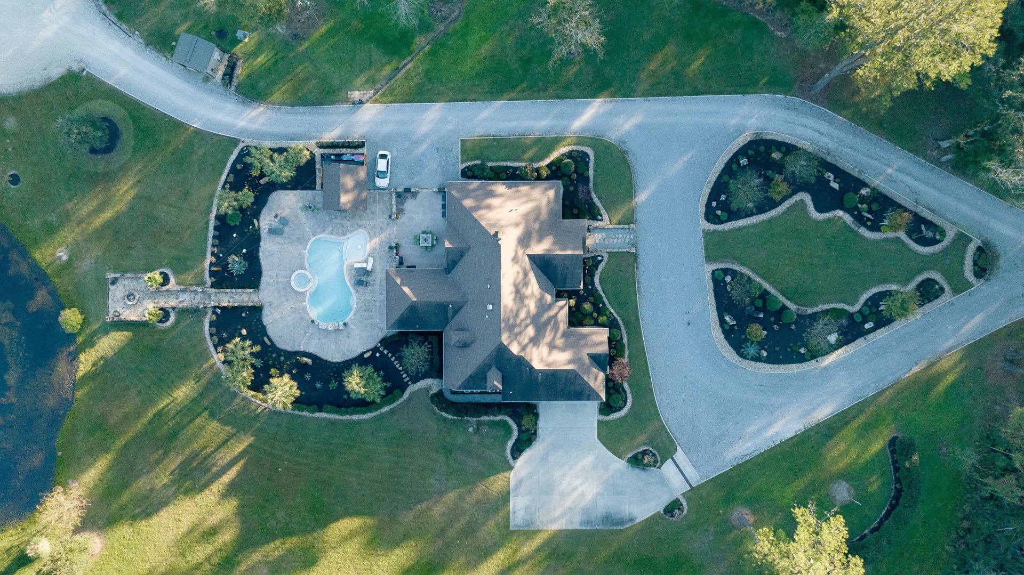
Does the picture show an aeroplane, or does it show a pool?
pool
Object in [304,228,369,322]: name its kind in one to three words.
swimming pool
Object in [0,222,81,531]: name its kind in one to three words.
pond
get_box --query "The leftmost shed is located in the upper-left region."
[174,34,233,82]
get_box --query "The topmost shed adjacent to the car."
[322,161,368,210]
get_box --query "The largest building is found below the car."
[385,180,611,402]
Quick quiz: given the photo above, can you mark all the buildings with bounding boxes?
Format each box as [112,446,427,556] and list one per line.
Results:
[322,161,368,210]
[174,34,233,82]
[385,180,611,402]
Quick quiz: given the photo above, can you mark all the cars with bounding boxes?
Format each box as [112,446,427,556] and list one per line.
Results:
[373,151,392,188]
